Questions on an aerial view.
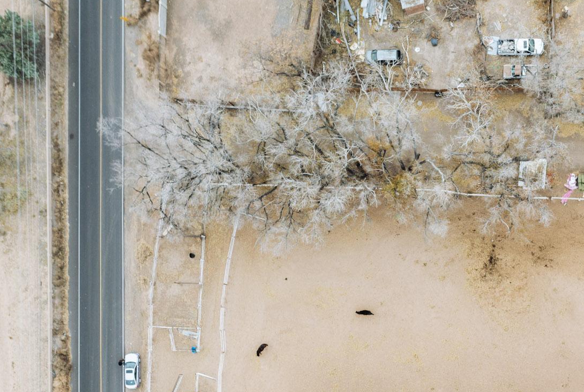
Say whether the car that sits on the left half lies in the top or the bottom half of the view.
bottom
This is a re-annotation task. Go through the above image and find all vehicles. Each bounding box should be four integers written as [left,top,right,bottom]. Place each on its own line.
[365,46,402,66]
[501,62,538,81]
[123,352,144,389]
[499,36,544,57]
